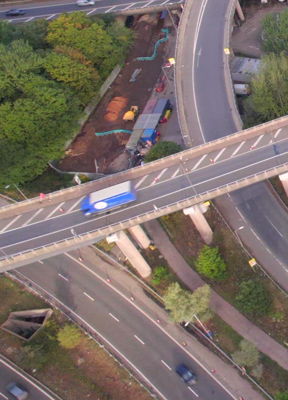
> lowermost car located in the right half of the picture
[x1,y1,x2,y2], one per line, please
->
[175,362,197,386]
